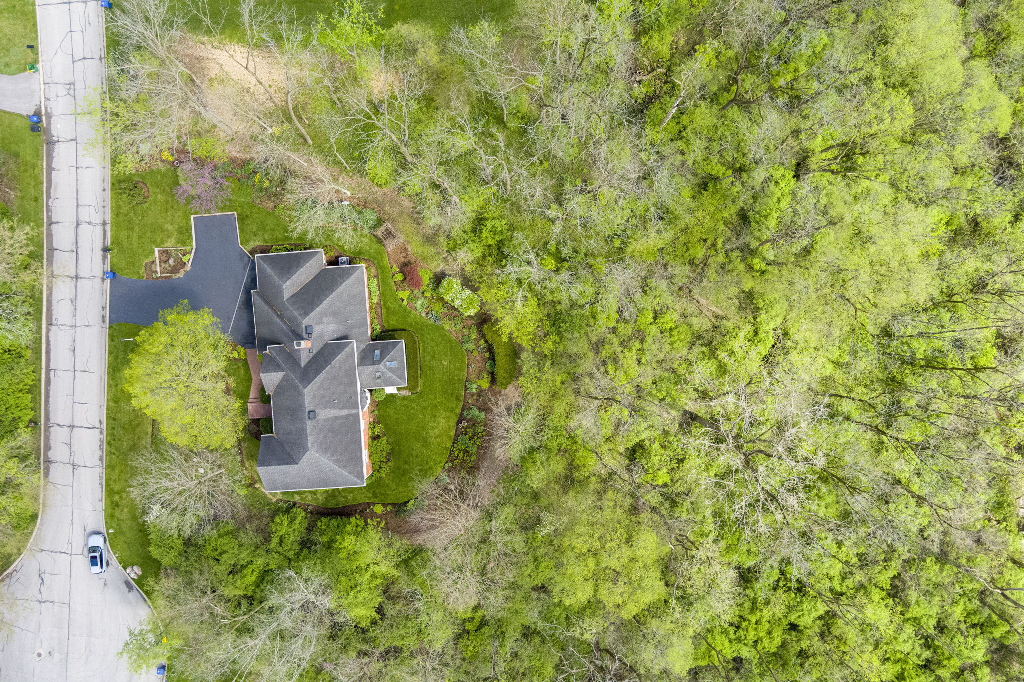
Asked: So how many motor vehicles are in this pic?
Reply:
1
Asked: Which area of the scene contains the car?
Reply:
bottom left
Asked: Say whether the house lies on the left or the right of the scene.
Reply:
left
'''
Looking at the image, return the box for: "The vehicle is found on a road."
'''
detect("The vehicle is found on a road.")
[83,533,108,575]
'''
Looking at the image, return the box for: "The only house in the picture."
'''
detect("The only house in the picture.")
[251,249,409,492]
